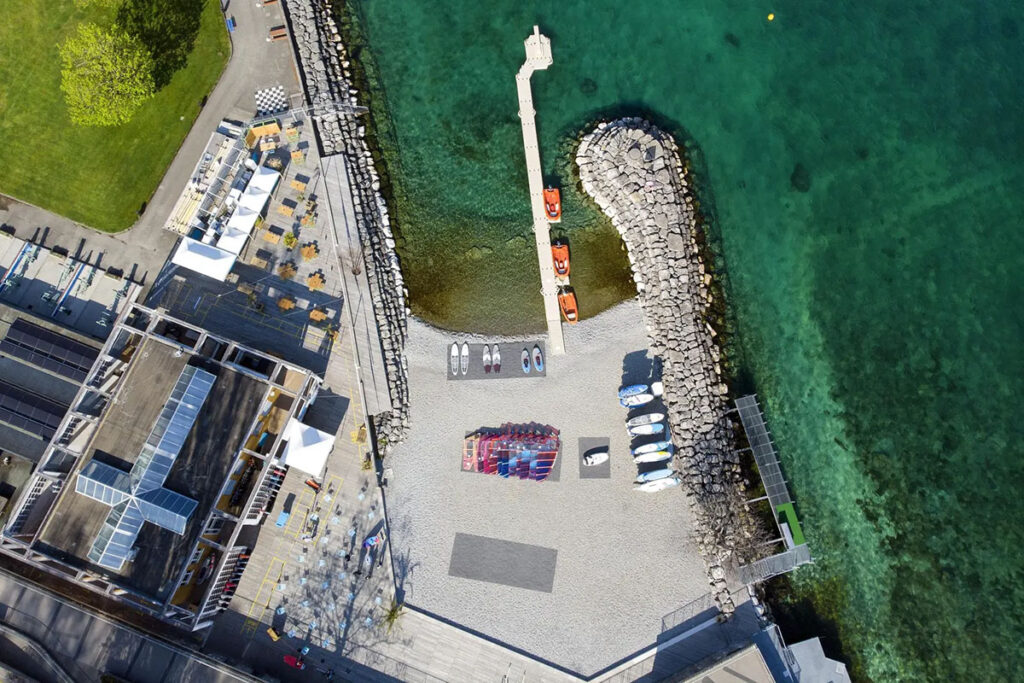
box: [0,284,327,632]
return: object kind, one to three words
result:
building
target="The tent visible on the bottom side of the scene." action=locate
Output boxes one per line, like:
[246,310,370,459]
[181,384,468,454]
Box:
[284,420,341,478]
